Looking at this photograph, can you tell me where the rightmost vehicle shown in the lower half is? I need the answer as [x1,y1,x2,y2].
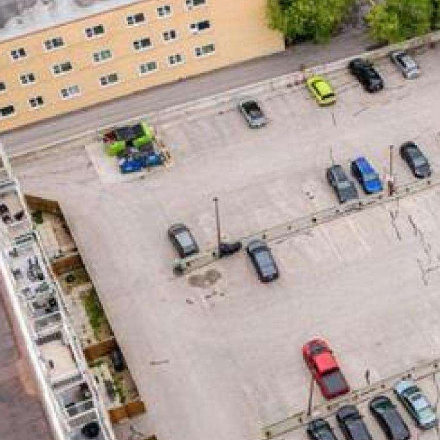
[396,379,437,433]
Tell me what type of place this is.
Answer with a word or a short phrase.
parking lot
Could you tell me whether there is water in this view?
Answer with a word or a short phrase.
No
